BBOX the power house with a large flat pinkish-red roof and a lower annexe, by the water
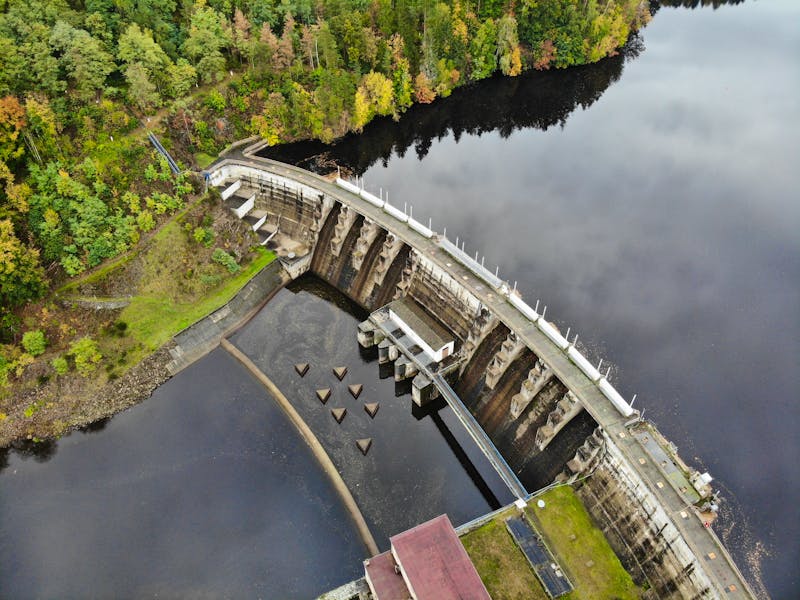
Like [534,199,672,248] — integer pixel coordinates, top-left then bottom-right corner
[364,514,494,600]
